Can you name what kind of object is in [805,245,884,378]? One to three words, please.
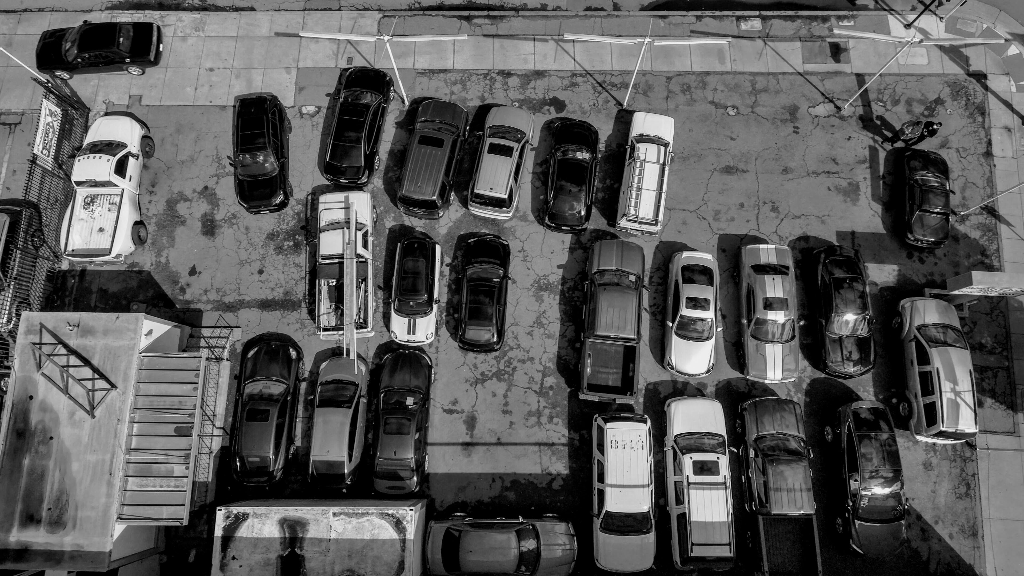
car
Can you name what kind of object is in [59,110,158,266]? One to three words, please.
truck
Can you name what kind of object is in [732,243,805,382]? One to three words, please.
car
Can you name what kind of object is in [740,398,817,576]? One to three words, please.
truck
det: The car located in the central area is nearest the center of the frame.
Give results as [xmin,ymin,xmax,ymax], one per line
[453,233,515,353]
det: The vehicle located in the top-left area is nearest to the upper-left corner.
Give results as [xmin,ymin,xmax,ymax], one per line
[31,15,165,80]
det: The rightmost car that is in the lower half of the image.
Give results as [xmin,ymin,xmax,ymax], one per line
[893,296,983,444]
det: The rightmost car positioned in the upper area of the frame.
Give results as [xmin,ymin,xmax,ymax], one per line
[894,148,965,249]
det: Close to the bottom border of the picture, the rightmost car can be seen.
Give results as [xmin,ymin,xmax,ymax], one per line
[830,400,912,558]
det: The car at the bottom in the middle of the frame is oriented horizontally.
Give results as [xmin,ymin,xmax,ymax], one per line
[426,516,576,576]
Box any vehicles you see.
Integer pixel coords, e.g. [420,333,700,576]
[59,110,158,266]
[311,189,371,340]
[732,243,805,382]
[740,398,817,576]
[466,102,533,221]
[383,236,443,345]
[426,516,576,576]
[31,15,165,80]
[660,248,726,377]
[830,400,912,558]
[592,415,659,573]
[303,355,369,486]
[579,235,651,404]
[542,117,603,235]
[453,233,515,353]
[893,296,983,444]
[396,93,470,223]
[227,89,293,213]
[662,396,735,568]
[894,148,965,249]
[615,107,681,241]
[368,352,433,494]
[228,341,305,485]
[320,64,393,187]
[805,245,884,378]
